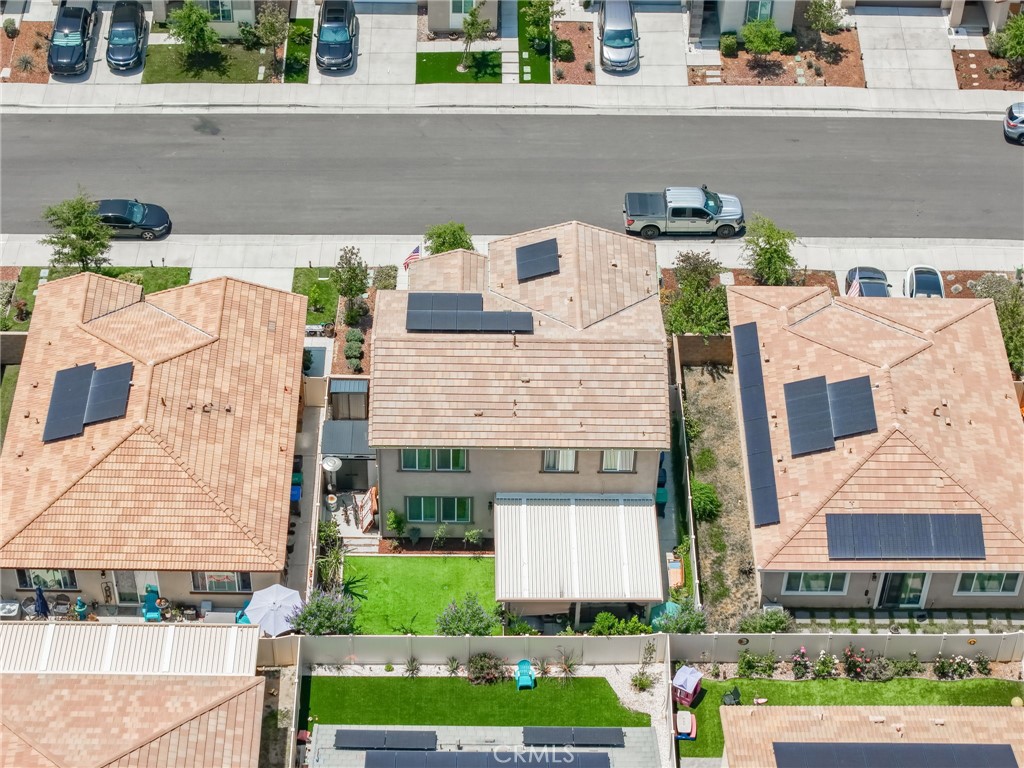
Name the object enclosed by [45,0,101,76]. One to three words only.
truck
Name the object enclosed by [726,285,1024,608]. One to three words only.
house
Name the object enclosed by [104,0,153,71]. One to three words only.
car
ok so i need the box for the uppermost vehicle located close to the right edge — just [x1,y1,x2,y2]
[999,100,1024,146]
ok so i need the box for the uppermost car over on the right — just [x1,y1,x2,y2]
[595,1,641,74]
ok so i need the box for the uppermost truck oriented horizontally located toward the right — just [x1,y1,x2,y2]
[623,186,745,239]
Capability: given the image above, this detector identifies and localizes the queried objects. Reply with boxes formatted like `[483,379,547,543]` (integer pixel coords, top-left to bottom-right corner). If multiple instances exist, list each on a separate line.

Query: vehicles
[999,100,1024,146]
[595,1,641,74]
[848,266,899,297]
[45,0,101,76]
[904,265,957,297]
[104,0,153,71]
[623,186,745,239]
[72,197,171,241]
[314,1,360,73]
